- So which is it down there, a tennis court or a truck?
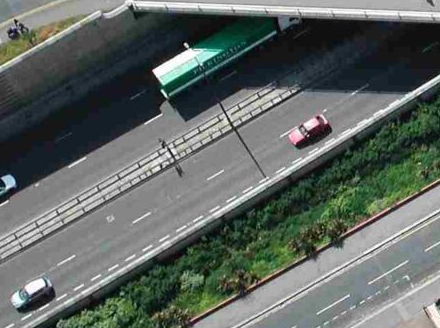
truck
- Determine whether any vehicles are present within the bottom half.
Yes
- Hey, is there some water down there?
No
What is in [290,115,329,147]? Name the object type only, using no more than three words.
car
